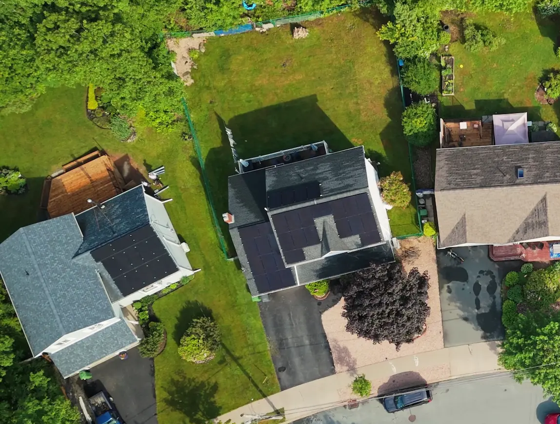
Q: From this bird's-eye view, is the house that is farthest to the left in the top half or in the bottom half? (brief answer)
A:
bottom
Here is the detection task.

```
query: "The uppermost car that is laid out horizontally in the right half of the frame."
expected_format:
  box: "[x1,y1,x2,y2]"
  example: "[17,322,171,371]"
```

[383,387,433,412]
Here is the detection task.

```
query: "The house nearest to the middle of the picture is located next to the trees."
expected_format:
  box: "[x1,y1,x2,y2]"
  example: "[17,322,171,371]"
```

[220,145,400,297]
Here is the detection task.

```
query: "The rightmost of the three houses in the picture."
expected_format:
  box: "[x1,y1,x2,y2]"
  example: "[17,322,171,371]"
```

[434,140,560,252]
